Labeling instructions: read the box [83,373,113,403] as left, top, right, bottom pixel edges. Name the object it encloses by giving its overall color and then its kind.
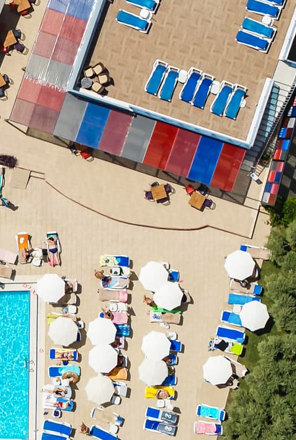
white umbrella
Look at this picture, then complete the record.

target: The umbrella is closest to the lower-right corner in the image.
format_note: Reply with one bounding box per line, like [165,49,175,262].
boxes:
[201,355,232,386]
